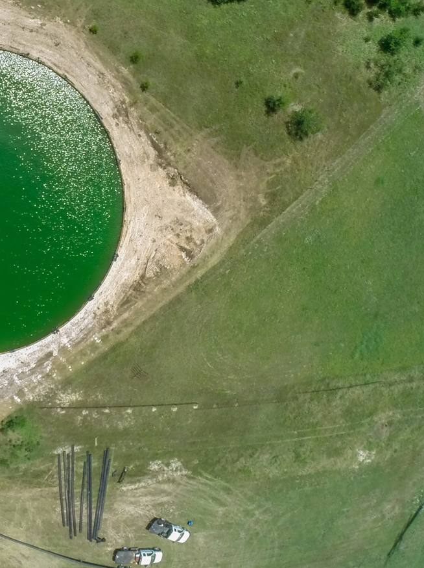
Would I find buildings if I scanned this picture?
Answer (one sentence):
No, the frame has no building in it.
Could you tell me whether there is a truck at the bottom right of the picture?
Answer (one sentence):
No, no truck appears at the bottom right of the picture.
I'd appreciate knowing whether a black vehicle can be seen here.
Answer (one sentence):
No, I can't see a single black vehicle in this photo.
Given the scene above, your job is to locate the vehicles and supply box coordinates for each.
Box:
[114,546,161,568]
[146,515,190,543]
